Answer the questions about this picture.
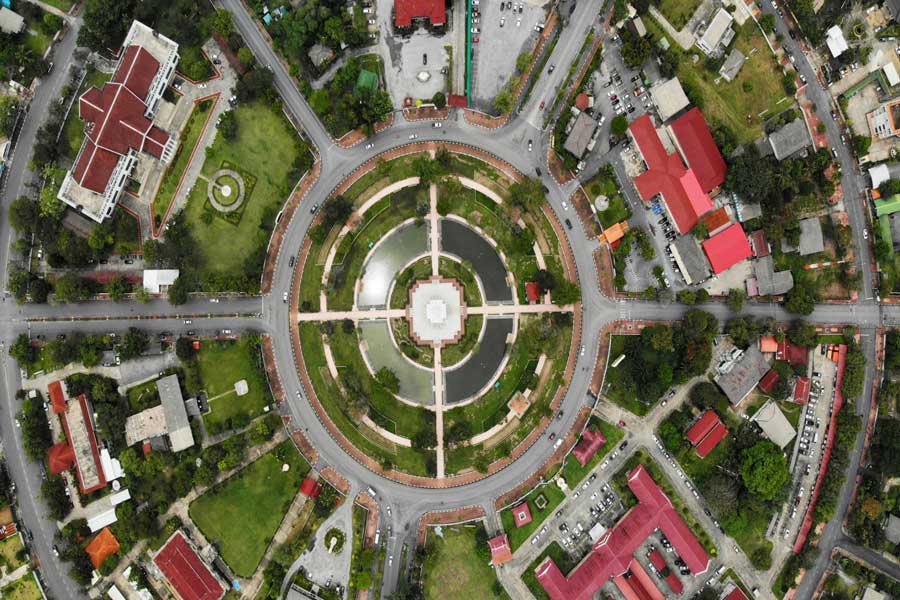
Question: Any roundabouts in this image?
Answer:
Yes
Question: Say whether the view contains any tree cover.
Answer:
Yes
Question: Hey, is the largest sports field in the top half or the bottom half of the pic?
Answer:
bottom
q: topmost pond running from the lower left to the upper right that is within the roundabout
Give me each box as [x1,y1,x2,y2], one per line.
[358,220,428,306]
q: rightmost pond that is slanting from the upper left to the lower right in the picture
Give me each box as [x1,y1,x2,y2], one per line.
[443,220,515,304]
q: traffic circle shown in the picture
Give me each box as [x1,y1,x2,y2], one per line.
[268,114,605,514]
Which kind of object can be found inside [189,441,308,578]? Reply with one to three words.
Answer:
sports field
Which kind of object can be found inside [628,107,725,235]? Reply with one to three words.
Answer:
building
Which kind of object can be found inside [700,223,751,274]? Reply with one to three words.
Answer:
house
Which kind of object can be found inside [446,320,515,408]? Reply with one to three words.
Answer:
pond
